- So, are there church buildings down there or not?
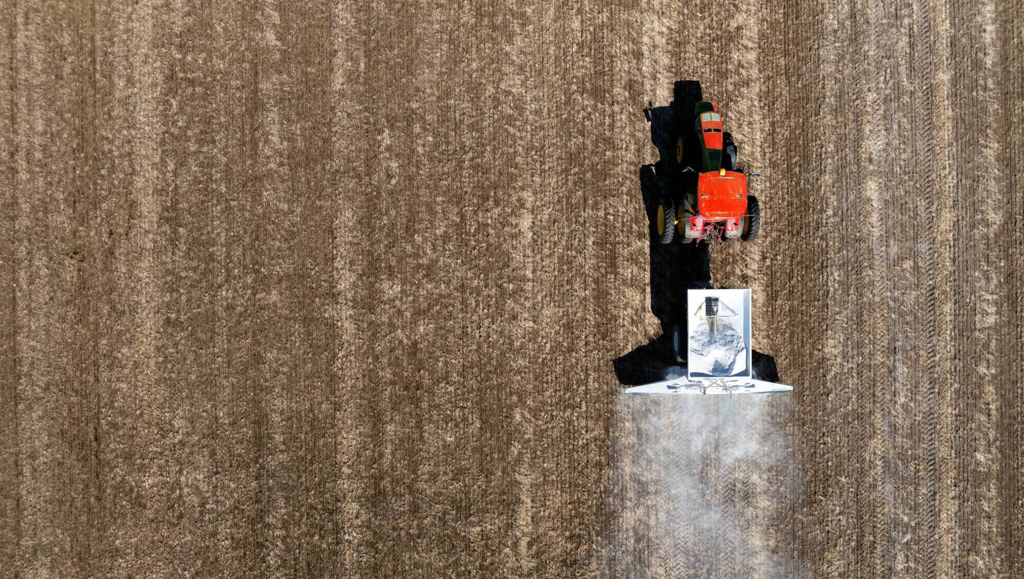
No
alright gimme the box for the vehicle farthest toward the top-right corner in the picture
[656,101,761,253]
